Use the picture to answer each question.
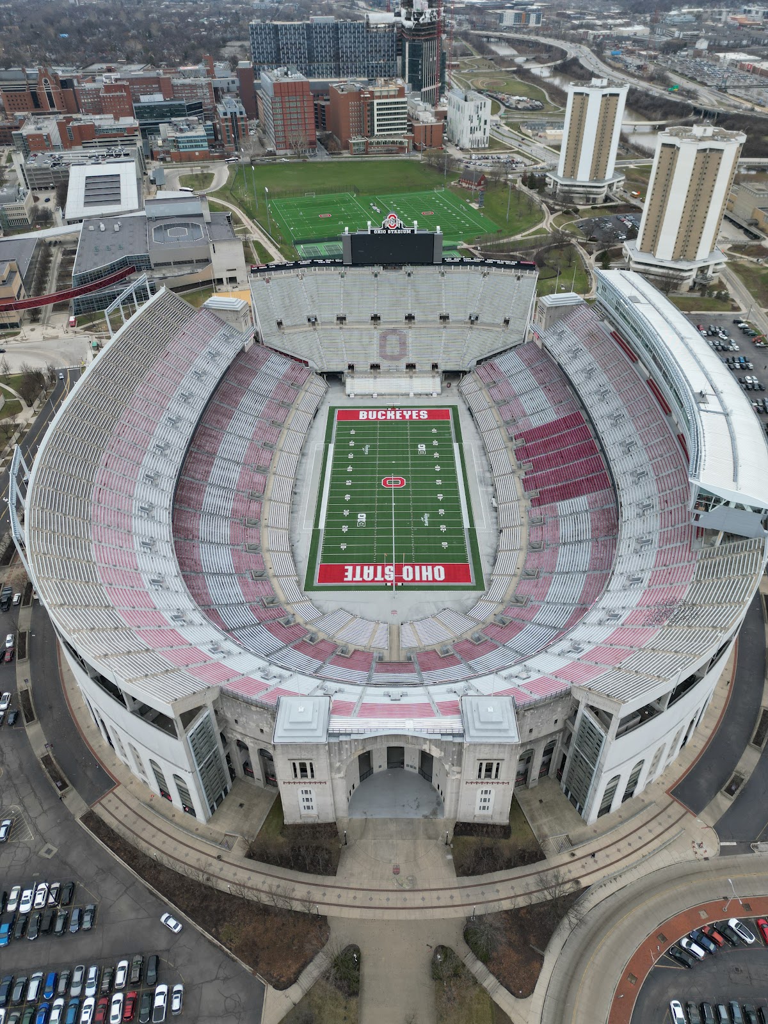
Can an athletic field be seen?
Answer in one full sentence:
Yes, the image includes an athletic field.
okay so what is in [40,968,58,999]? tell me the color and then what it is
blue vehicle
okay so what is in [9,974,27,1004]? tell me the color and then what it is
gray car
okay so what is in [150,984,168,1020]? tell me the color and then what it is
white vehicle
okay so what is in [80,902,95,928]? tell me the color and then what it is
gray car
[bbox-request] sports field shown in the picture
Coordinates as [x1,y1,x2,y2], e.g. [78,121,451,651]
[290,405,499,590]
